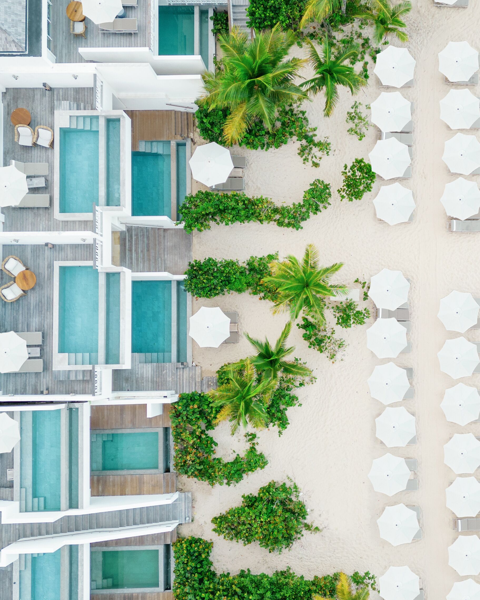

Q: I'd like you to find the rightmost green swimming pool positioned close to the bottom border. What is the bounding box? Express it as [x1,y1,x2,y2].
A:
[94,537,179,594]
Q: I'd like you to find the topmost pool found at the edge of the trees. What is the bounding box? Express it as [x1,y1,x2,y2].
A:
[154,3,215,80]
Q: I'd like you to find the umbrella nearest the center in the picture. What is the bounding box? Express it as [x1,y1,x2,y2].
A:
[188,304,232,348]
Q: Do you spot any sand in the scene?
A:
Yes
